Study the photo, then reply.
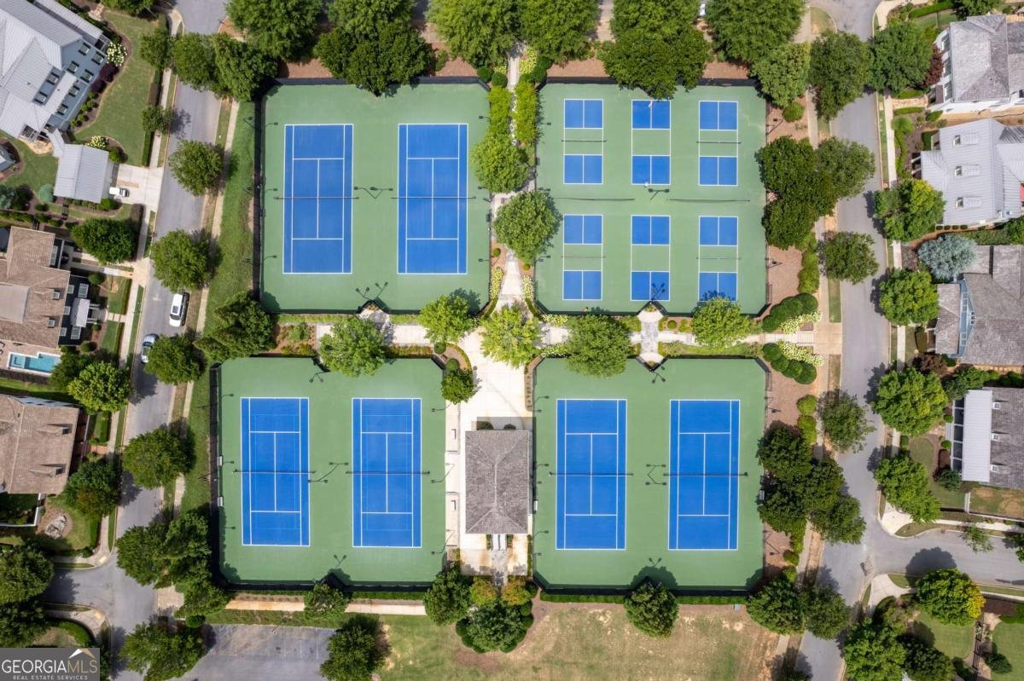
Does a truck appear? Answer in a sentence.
No, no truck can be seen from above.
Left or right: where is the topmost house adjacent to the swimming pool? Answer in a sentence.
The topmost house adjacent to the swimming pool sits on the left side.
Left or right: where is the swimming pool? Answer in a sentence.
The swimming pool appears in the left half of the scene.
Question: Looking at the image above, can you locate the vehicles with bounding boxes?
[104,184,129,196]
[139,333,158,364]
[696,0,709,20]
[166,292,186,326]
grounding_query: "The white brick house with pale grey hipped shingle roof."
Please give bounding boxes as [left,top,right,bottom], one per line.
[925,14,1024,112]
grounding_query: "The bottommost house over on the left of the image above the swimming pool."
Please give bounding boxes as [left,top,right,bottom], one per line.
[0,224,101,348]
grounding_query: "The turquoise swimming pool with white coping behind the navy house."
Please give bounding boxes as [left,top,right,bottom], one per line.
[7,352,56,376]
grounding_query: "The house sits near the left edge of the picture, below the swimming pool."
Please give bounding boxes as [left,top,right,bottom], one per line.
[0,390,90,495]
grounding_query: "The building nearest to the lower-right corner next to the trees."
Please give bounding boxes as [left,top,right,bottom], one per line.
[942,387,1024,490]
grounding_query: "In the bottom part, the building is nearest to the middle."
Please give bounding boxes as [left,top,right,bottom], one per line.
[465,429,529,551]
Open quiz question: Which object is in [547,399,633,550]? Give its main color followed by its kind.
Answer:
blue tennis court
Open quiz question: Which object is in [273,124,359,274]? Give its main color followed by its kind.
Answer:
blue tennis court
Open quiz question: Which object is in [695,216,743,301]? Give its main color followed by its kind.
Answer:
blue sports court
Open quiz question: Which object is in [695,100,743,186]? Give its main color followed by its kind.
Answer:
blue sports court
